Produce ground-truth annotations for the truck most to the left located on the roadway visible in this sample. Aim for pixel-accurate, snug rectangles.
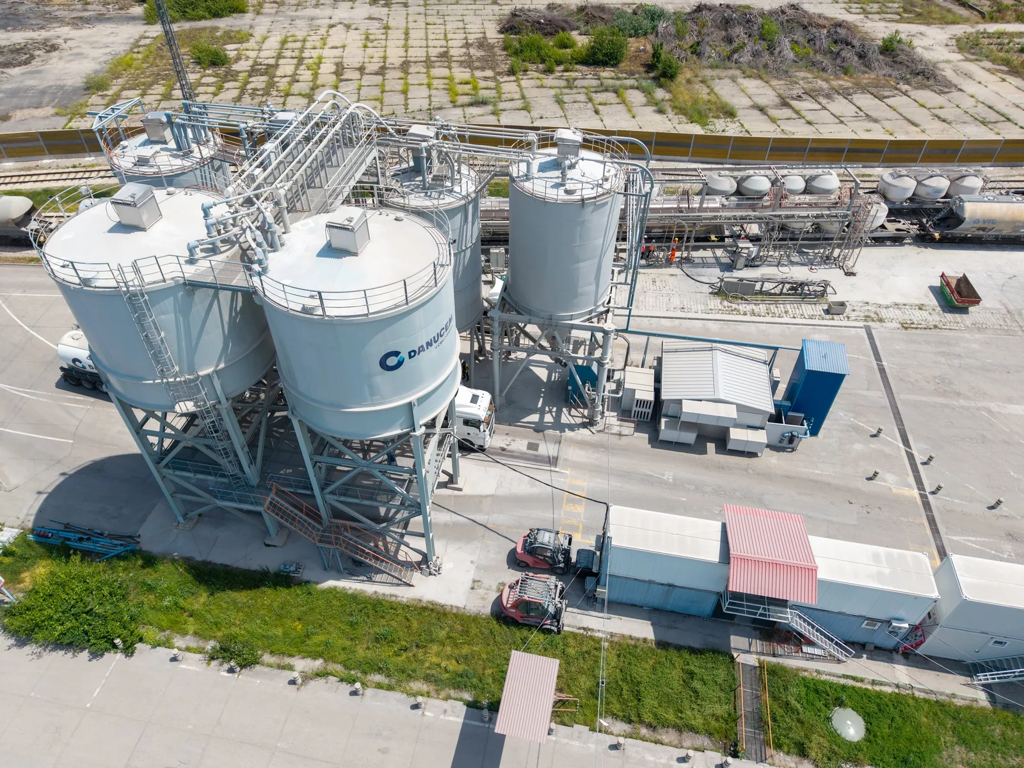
[51,316,99,383]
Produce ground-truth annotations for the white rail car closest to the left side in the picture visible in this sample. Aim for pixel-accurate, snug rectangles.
[0,183,64,237]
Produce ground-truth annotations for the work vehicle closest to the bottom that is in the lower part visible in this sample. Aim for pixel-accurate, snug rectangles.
[503,576,585,631]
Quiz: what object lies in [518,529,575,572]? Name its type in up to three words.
work vehicle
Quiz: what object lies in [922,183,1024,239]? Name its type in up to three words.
rail car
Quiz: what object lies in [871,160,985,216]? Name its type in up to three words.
rail car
